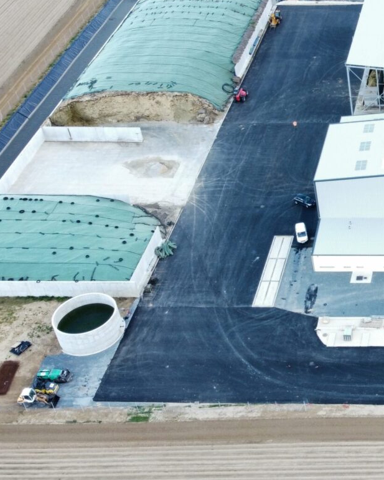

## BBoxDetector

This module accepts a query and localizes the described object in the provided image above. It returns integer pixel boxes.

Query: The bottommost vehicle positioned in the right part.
[294,221,307,242]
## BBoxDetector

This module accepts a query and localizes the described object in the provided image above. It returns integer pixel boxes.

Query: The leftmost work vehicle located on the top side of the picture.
[233,85,246,105]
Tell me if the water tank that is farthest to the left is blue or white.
white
